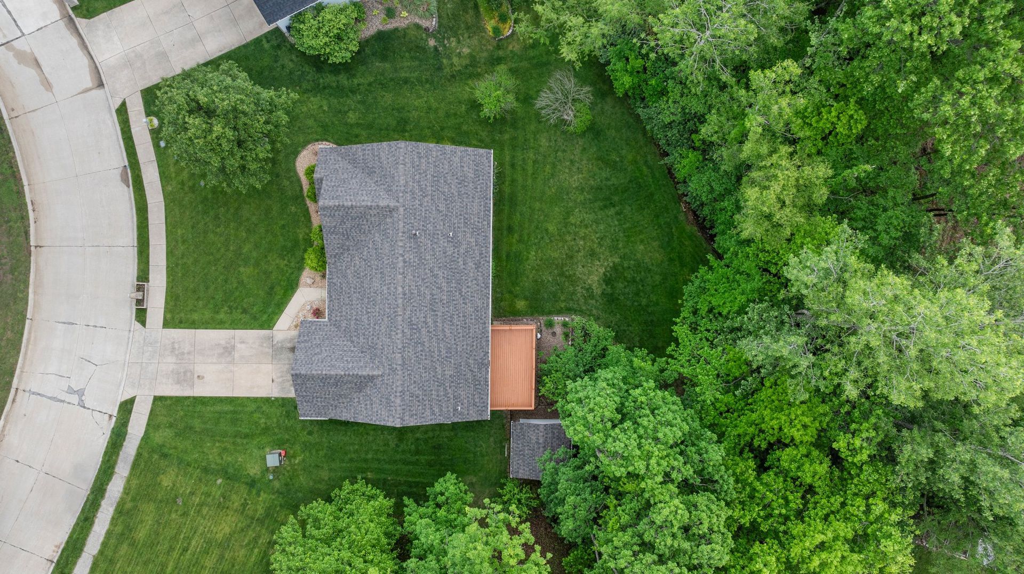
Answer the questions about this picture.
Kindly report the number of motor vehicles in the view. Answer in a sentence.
There are no motor vehicles in the image.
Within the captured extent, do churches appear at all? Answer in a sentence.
No, there's no church here.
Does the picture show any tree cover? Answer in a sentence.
Yes, there is tree cover in the image.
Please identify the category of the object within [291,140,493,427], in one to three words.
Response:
house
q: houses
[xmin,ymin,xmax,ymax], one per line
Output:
[255,0,349,37]
[291,140,493,427]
